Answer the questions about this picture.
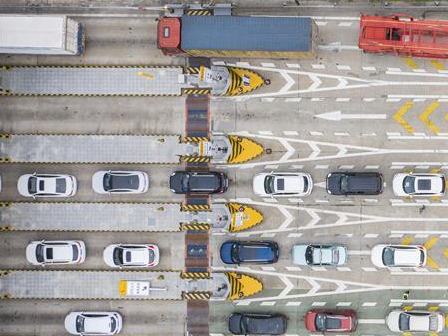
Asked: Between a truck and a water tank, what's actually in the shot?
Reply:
truck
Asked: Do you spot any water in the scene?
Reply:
No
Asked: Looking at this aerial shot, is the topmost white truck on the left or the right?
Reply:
left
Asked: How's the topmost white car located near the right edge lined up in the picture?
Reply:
from left to right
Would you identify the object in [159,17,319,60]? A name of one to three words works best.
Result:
truck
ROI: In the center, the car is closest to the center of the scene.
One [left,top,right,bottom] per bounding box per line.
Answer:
[170,168,227,196]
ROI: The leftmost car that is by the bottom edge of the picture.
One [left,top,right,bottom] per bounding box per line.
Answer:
[66,310,122,336]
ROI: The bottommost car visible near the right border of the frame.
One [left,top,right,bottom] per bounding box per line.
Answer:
[387,308,445,335]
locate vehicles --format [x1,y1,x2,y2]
[20,172,77,199]
[372,241,427,269]
[0,18,86,58]
[170,168,227,196]
[306,308,358,335]
[229,311,286,336]
[66,310,122,336]
[27,239,87,267]
[105,241,159,268]
[327,169,383,197]
[159,17,319,60]
[220,238,278,267]
[293,242,347,268]
[387,308,445,335]
[254,170,312,198]
[94,168,148,195]
[393,170,445,197]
